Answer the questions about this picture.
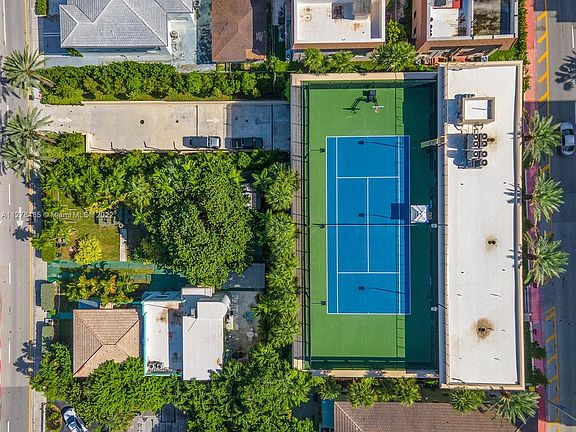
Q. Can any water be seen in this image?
No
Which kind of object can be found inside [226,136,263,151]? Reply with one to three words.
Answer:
car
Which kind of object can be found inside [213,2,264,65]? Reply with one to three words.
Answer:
house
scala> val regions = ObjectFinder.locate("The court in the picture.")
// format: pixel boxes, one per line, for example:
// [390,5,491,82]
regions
[302,80,436,370]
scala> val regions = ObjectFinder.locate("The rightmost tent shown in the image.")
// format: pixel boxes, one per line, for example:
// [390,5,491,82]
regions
[406,204,428,223]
